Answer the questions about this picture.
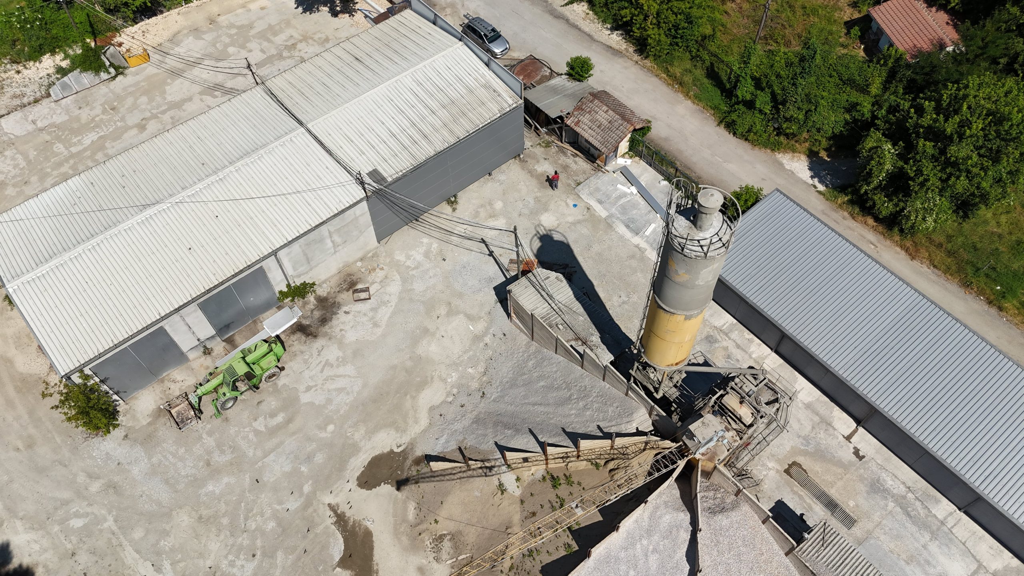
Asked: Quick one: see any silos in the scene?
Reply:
Yes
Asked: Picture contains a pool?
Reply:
No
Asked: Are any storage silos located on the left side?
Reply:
No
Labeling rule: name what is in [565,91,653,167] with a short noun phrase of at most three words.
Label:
shed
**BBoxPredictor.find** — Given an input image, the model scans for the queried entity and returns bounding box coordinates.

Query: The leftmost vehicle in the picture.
[185,341,287,425]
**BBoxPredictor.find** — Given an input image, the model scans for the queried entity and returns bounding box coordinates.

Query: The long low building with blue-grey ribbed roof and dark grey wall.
[713,187,1024,553]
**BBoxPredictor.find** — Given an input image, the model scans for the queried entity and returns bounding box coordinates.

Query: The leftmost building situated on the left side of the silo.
[0,0,529,404]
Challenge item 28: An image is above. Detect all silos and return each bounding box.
[631,181,743,408]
